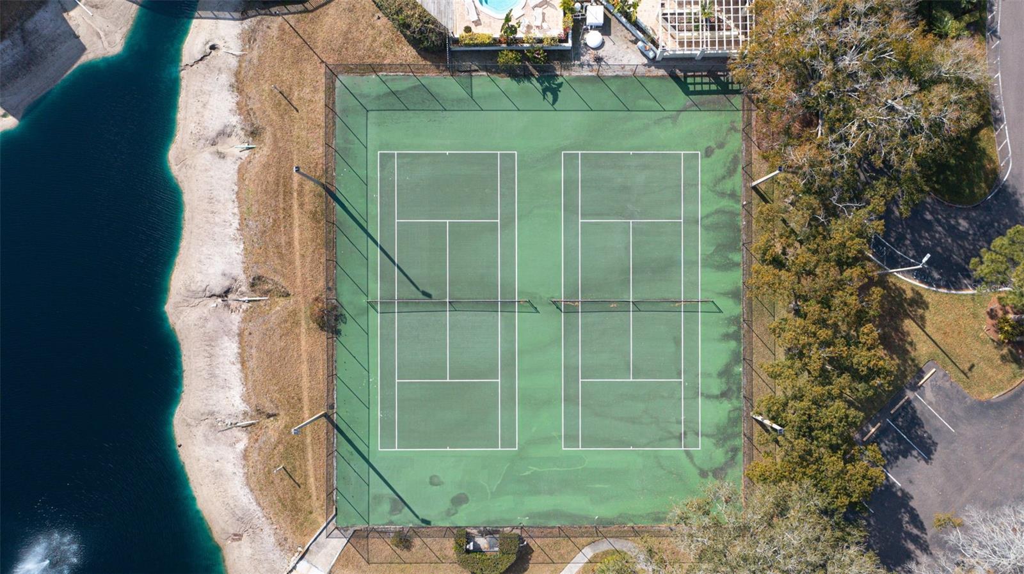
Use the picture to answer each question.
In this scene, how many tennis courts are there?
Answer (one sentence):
The count of tennis courts comes to 2.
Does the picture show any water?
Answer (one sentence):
Yes, the picture does contain water.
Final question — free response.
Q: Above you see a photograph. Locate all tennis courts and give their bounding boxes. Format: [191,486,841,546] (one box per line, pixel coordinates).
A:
[379,151,517,450]
[561,150,702,451]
